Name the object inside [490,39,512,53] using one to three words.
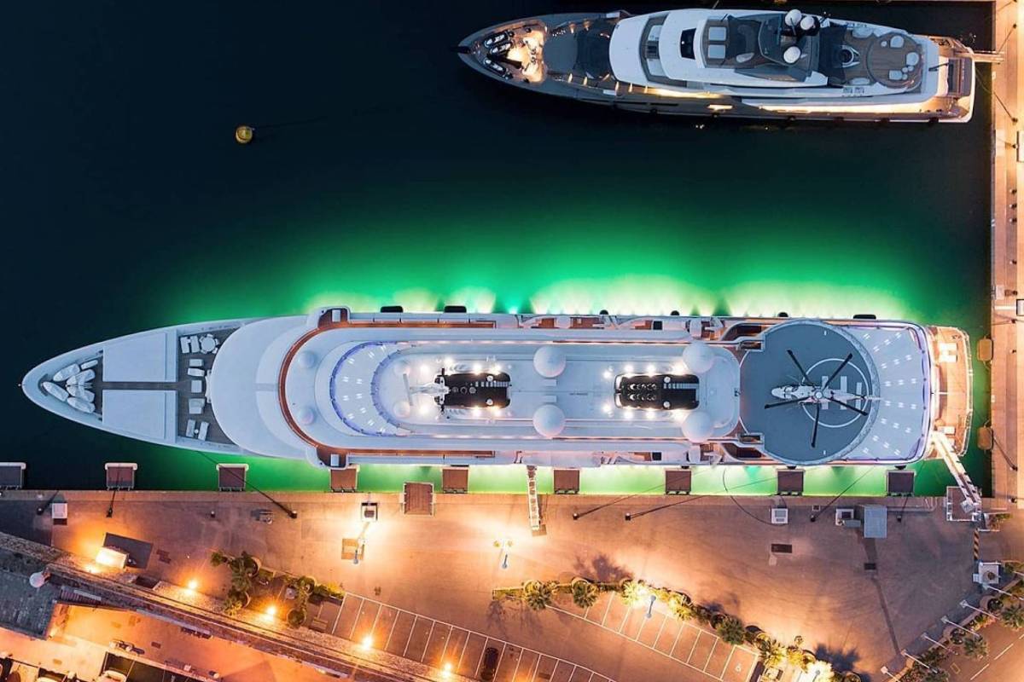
boat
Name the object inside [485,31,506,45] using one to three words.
boat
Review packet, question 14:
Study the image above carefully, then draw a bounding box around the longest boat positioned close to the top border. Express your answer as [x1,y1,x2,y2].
[451,4,975,126]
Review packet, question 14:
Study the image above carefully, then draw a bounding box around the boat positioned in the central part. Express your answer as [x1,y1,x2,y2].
[17,306,972,478]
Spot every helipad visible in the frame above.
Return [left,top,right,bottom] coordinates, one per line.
[734,318,884,466]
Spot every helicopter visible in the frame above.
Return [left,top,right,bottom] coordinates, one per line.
[765,351,896,447]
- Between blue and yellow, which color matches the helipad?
blue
